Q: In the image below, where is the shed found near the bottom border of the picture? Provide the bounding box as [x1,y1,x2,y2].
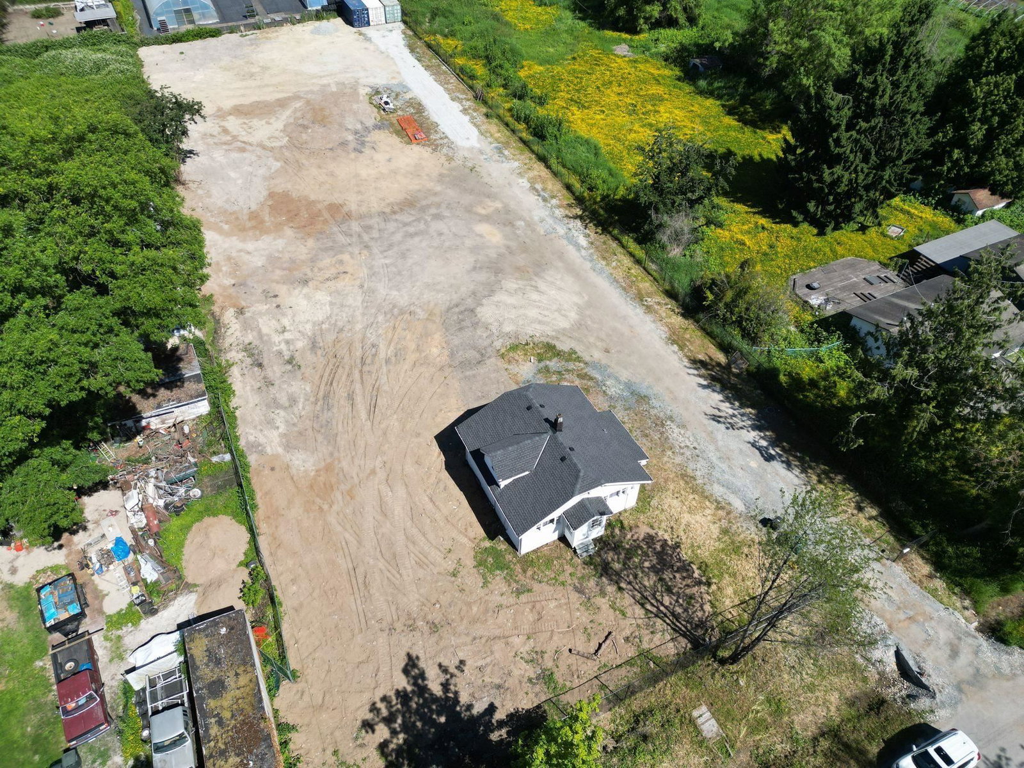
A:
[182,604,286,768]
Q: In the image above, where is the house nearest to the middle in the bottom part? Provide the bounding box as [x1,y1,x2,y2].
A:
[455,382,652,558]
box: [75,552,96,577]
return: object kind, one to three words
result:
work vehicle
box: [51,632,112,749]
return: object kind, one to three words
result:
truck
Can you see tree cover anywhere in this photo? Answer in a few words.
Yes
